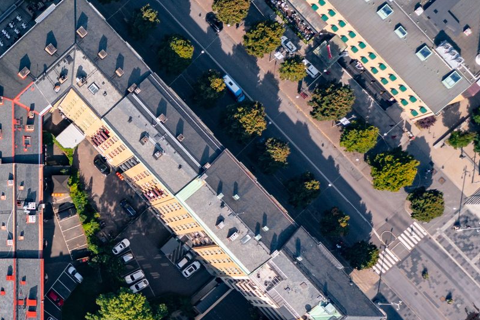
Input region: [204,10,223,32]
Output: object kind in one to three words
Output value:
car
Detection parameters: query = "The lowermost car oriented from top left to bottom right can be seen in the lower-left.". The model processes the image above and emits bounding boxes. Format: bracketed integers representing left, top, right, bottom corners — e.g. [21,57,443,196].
[45,290,64,308]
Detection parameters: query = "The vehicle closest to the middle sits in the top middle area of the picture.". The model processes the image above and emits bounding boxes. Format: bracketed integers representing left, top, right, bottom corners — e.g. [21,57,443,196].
[222,70,247,102]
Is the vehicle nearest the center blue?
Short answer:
Yes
